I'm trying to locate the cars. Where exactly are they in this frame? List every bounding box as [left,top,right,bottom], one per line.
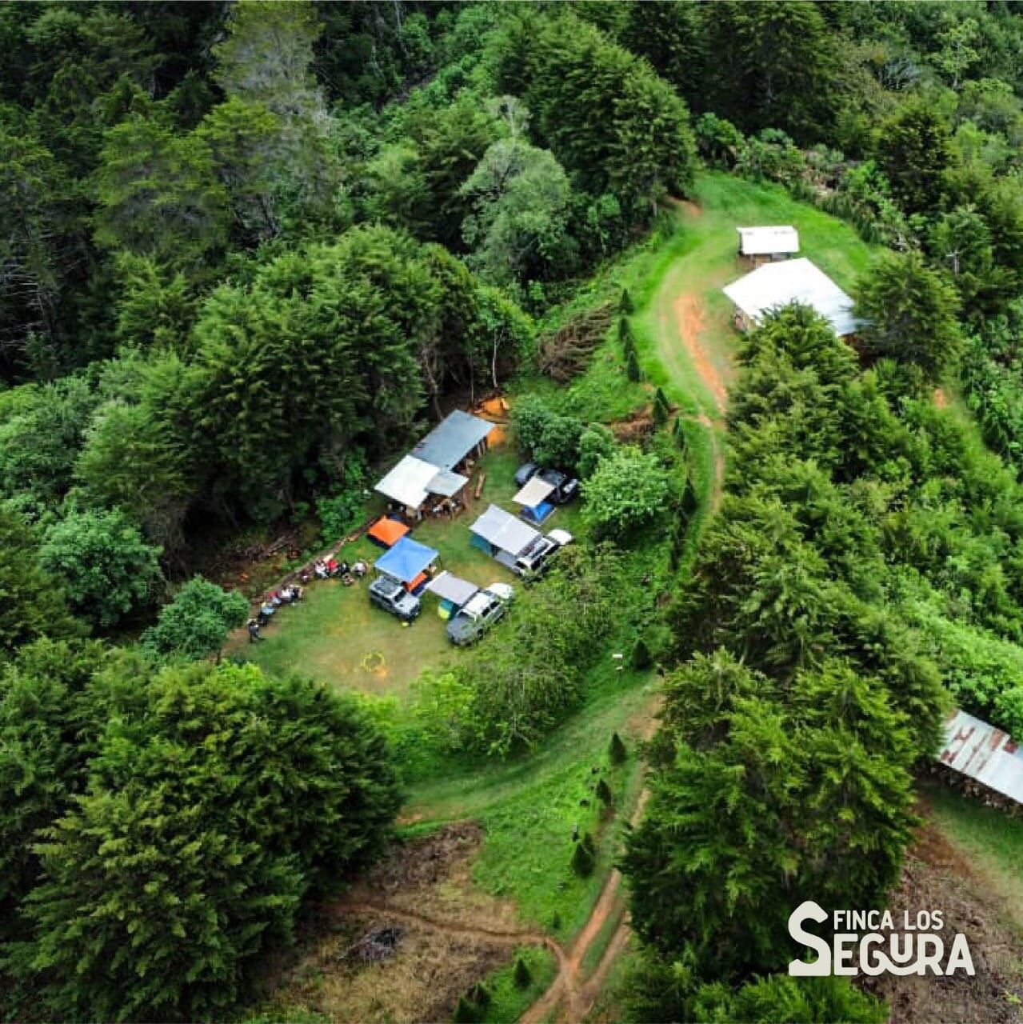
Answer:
[359,571,434,630]
[444,570,523,649]
[506,448,587,503]
[512,518,577,584]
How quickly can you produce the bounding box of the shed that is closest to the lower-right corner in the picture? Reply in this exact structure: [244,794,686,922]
[925,714,1023,824]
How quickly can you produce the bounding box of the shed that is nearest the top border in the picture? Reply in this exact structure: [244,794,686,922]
[736,226,800,273]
